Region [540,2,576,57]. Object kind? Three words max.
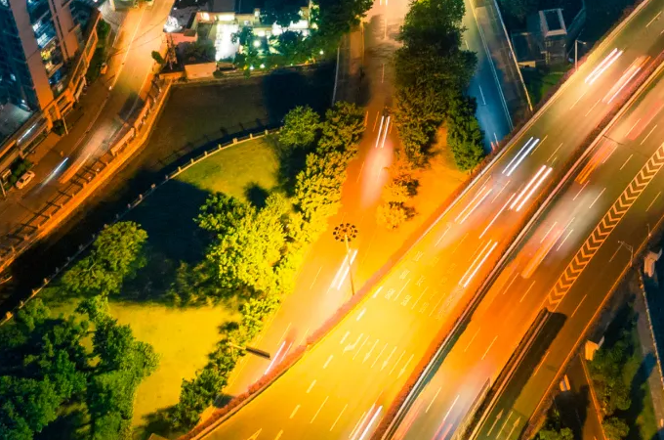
shed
